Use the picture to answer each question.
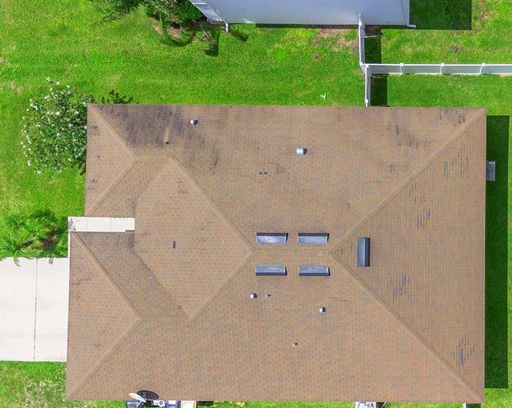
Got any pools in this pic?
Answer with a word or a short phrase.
No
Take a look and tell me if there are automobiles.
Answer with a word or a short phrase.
No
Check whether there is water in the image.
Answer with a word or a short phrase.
No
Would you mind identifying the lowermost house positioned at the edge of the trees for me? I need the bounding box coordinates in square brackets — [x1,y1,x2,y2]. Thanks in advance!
[67,103,494,403]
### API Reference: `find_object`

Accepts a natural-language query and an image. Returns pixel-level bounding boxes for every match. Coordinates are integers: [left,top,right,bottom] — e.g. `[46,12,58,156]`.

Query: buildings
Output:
[67,103,494,403]
[188,0,416,33]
